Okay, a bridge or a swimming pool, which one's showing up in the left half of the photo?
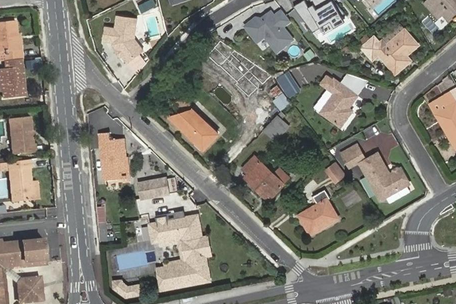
swimming pool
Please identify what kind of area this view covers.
residential area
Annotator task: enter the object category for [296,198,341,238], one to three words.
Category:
house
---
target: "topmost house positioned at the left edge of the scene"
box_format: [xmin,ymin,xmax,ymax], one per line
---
[0,20,24,60]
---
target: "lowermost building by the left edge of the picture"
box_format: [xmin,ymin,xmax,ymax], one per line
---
[16,275,44,304]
